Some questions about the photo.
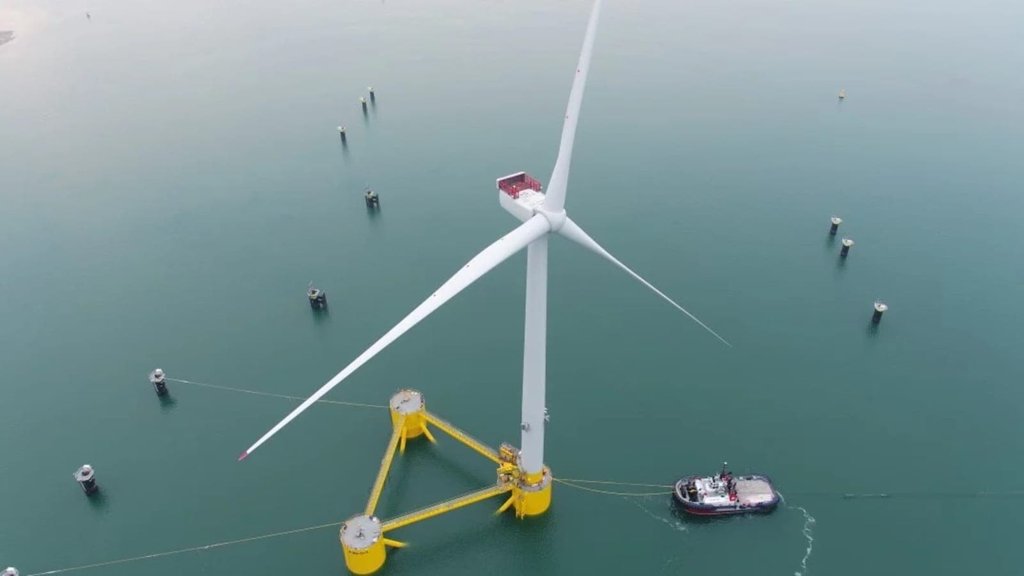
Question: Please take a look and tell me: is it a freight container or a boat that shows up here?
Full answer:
Visible in the photo is a boat.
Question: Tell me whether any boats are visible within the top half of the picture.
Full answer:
No, no boat can be made out within the top half of the picture.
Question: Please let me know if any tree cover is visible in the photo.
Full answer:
No, there is no tree cover in the image.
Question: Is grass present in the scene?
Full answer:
No, grass can't be seen anywhere here.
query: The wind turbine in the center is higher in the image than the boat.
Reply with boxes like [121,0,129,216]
[241,0,731,485]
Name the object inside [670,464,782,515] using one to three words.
boat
